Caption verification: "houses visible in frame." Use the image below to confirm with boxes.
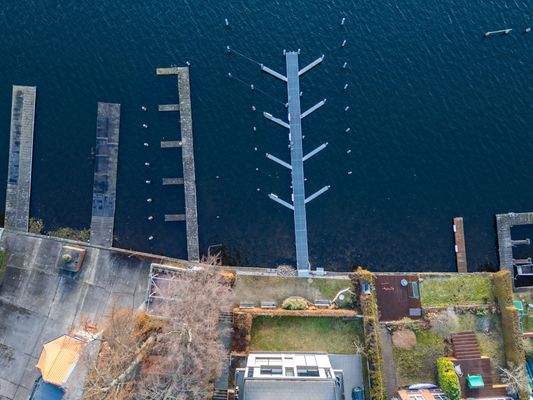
[235,353,344,400]
[395,382,448,400]
[37,333,87,384]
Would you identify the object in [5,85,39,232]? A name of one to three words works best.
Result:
pier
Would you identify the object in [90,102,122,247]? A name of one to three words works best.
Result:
pier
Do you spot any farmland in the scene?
No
